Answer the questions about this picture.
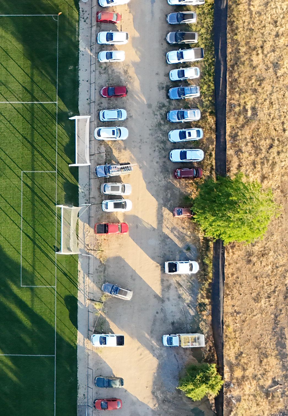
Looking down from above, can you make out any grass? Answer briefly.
Yes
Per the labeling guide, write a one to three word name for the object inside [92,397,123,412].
car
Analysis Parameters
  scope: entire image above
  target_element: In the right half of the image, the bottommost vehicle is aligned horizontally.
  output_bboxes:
[161,333,207,348]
